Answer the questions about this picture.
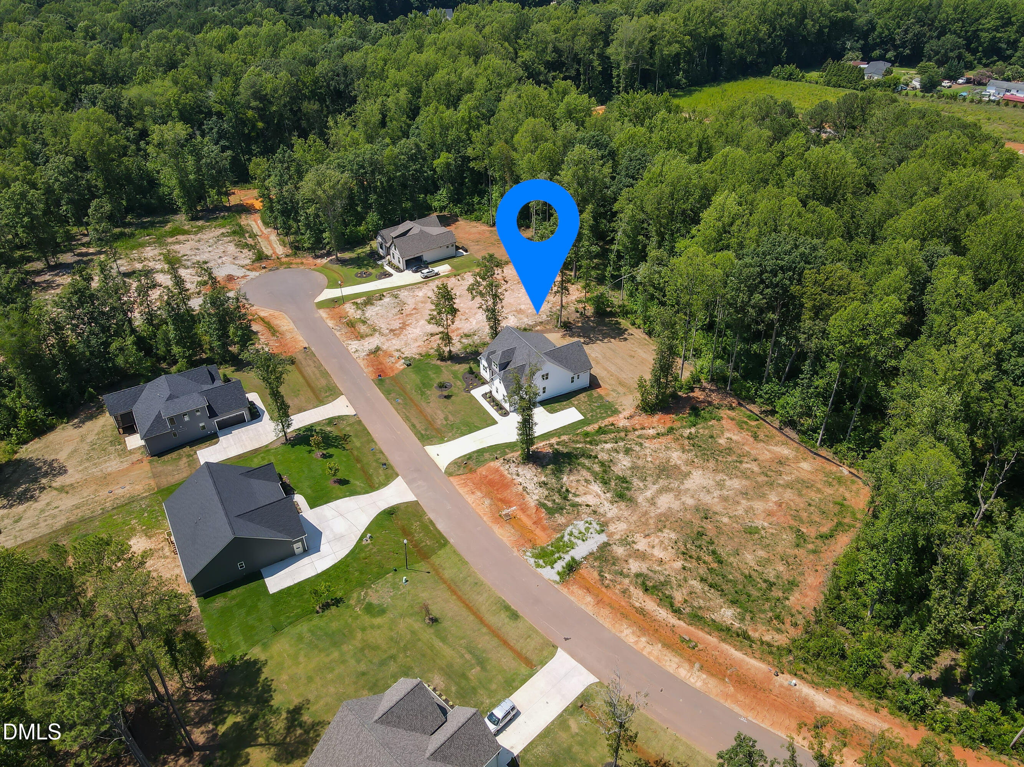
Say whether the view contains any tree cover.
Yes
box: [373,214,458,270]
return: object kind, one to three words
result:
house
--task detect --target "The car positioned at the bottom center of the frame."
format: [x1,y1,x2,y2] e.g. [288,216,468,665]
[484,695,519,735]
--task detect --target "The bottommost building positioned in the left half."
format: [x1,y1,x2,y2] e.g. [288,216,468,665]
[295,671,503,767]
